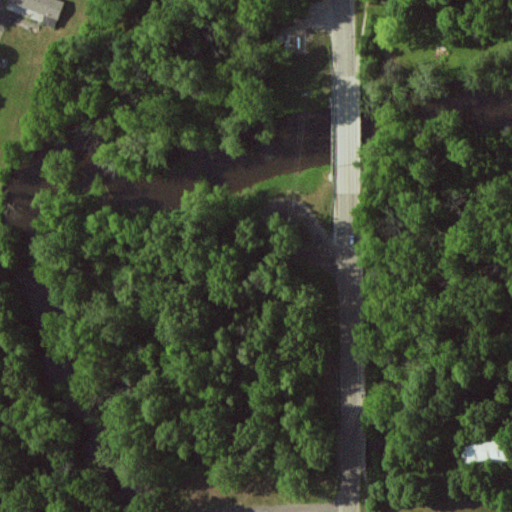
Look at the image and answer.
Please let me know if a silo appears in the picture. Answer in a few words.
No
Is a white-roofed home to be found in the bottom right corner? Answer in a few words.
Yes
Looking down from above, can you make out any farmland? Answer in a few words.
No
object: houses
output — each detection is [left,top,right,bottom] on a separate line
[1,0,63,28]
[464,444,509,464]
